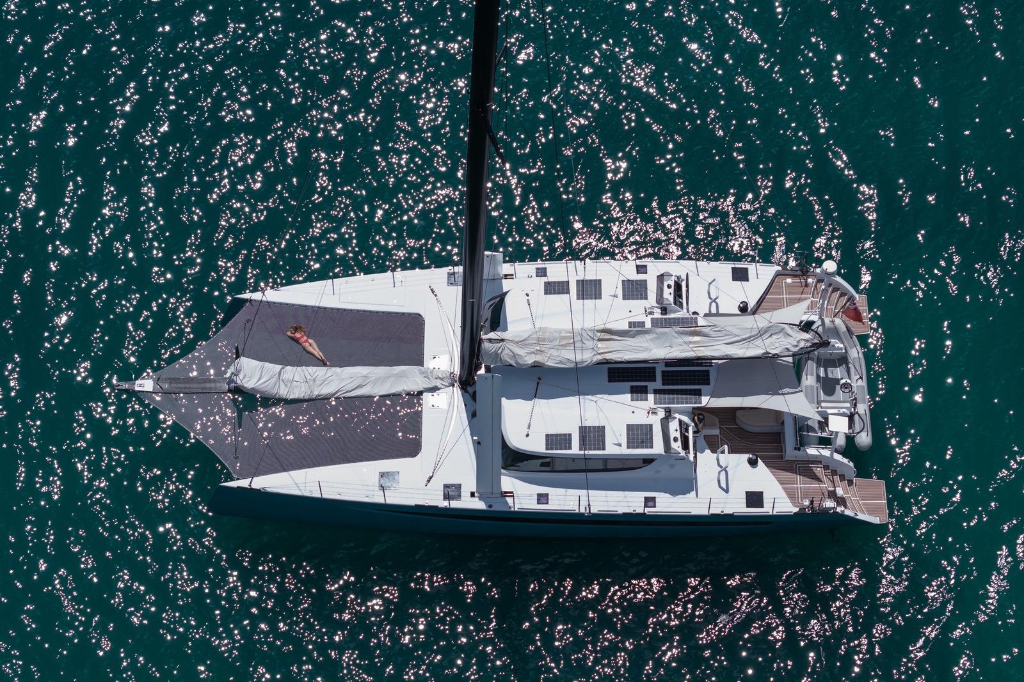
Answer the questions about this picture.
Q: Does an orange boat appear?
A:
No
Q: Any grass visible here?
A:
No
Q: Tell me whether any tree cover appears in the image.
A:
No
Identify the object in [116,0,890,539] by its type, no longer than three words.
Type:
boat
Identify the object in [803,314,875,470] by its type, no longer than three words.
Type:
boat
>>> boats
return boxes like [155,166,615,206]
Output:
[803,314,875,470]
[116,0,890,539]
